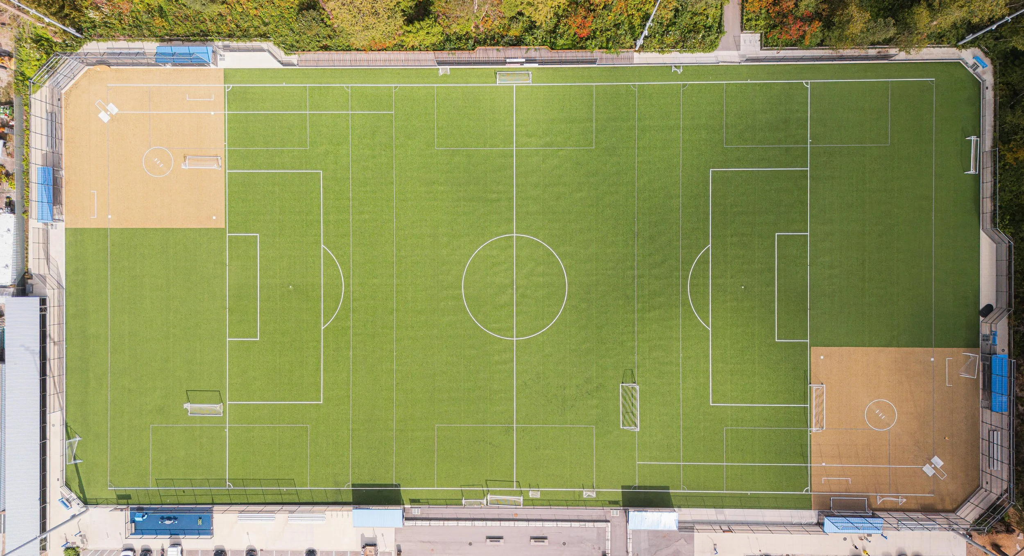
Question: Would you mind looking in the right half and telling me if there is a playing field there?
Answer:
Yes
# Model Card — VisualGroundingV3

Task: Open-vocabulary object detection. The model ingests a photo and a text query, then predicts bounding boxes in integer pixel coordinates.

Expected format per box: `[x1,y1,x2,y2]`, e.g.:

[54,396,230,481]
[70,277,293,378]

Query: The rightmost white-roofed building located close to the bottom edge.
[626,505,678,531]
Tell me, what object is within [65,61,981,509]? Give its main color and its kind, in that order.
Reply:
green sports field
